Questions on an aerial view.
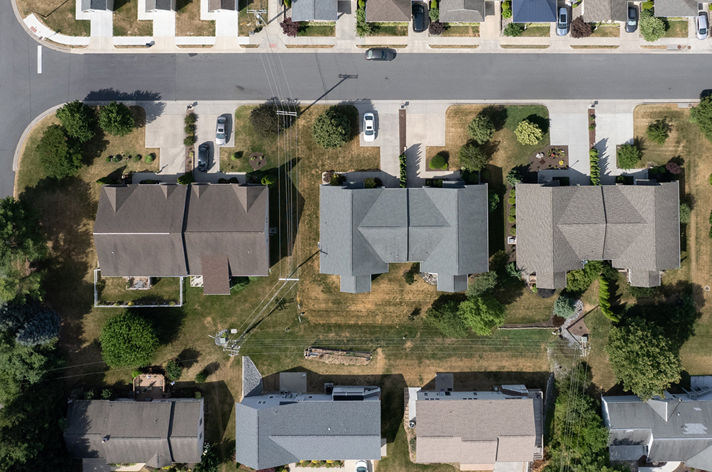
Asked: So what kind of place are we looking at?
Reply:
residential area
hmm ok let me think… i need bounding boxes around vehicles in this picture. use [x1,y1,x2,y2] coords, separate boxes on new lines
[354,461,368,472]
[362,111,377,142]
[197,142,211,173]
[694,13,709,39]
[413,2,426,33]
[555,5,568,37]
[214,114,229,145]
[624,5,639,33]
[365,47,395,62]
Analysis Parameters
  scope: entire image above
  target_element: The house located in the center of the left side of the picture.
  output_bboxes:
[95,184,269,295]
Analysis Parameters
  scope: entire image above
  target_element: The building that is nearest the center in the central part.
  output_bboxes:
[319,178,488,294]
